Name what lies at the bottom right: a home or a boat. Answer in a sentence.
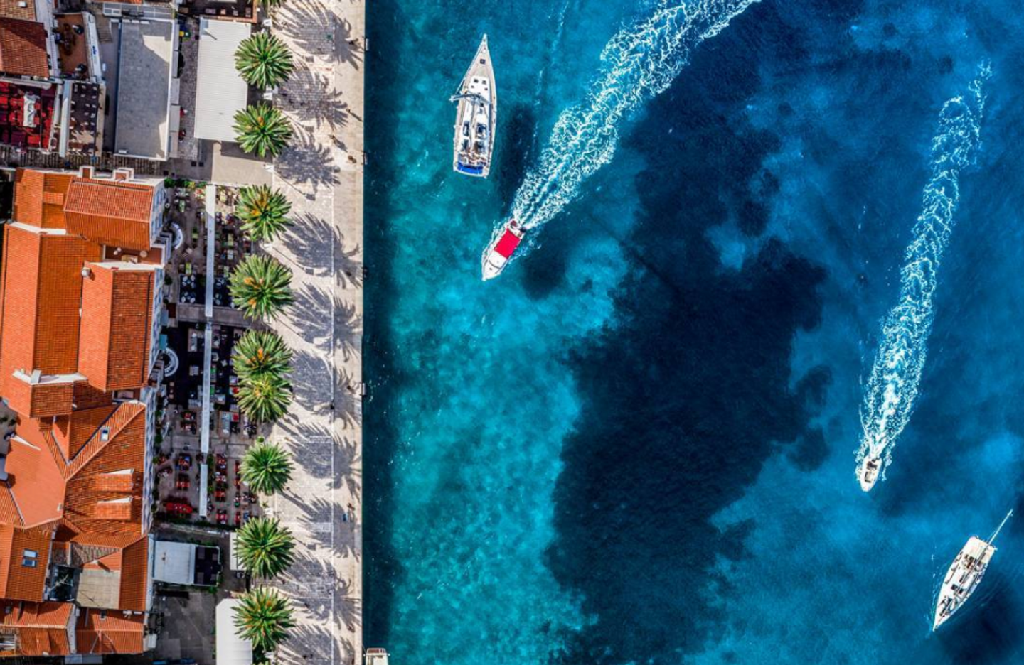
There is a boat at the bottom right.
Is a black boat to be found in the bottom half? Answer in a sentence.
No, no black boat can be made out in the bottom half.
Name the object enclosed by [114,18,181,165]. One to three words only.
building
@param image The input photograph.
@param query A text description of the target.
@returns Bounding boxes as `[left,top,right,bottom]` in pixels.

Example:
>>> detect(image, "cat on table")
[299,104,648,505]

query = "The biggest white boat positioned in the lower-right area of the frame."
[930,503,1006,631]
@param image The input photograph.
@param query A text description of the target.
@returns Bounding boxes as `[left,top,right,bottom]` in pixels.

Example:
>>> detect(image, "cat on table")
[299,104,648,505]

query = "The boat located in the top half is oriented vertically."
[450,31,498,180]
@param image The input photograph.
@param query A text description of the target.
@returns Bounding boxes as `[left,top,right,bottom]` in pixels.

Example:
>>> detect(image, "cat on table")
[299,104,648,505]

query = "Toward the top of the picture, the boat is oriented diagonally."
[484,220,526,280]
